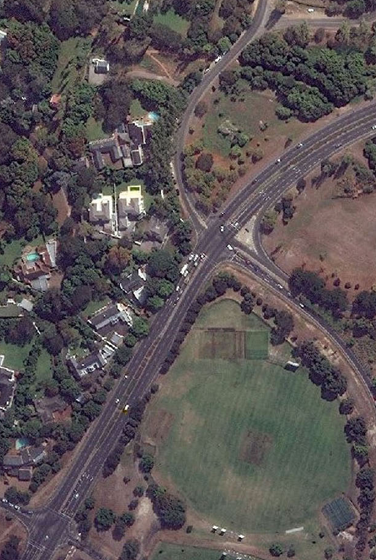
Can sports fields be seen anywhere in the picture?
Yes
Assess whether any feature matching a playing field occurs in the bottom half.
Yes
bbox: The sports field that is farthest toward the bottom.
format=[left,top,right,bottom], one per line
[150,545,255,560]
